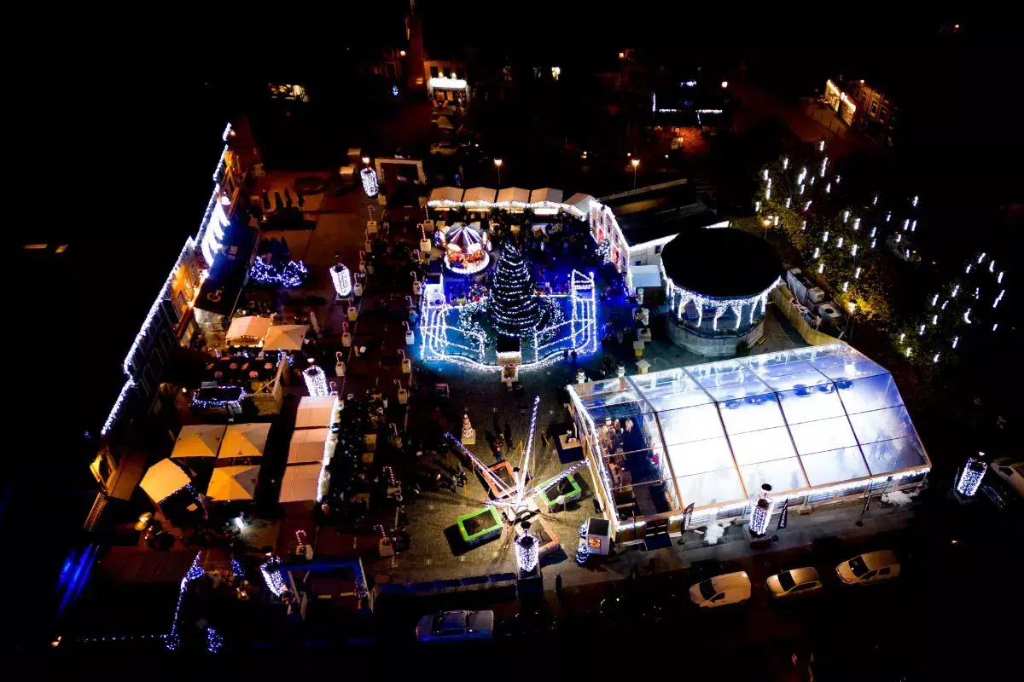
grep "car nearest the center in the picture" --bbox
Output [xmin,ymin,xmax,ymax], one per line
[430,140,463,157]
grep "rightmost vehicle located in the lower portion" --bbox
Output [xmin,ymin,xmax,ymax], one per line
[986,451,1024,489]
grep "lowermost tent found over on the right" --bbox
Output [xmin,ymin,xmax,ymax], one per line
[567,341,935,564]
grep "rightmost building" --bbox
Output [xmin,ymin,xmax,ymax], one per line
[862,53,956,145]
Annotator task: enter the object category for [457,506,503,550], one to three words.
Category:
trampoline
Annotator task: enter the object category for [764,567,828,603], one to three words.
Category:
car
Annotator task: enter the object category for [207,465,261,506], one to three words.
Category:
umbrella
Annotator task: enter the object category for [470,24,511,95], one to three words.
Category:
house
